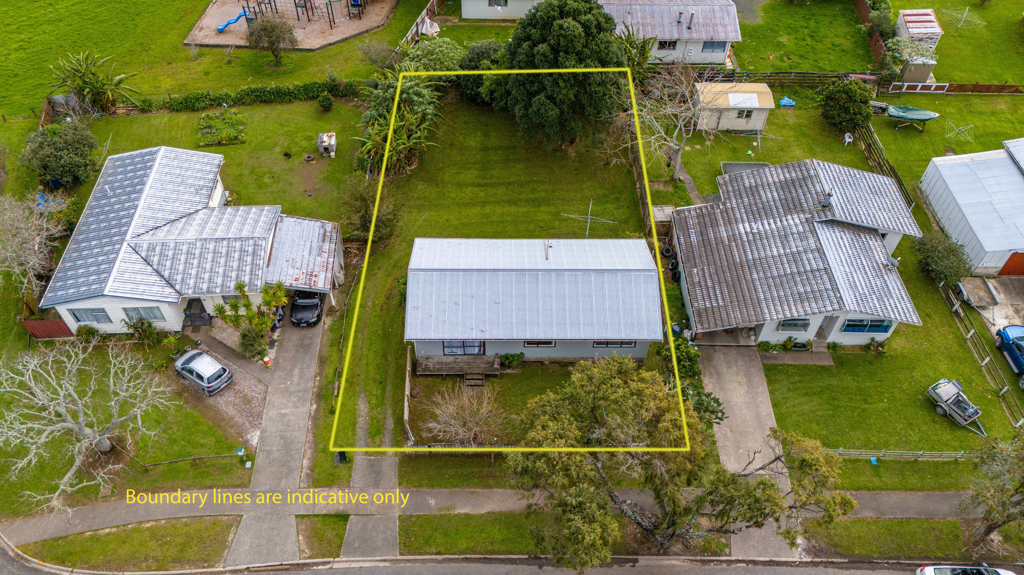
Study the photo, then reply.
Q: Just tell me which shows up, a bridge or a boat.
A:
boat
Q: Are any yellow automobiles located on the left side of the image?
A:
No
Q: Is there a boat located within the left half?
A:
No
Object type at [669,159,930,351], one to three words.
house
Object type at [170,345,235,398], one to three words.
car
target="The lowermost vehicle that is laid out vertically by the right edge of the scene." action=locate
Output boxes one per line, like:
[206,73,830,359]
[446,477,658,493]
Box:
[993,320,1024,395]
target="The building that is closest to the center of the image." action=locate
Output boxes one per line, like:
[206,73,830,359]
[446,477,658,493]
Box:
[403,234,664,359]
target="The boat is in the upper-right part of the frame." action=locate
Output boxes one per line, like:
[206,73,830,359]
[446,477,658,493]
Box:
[886,103,941,132]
